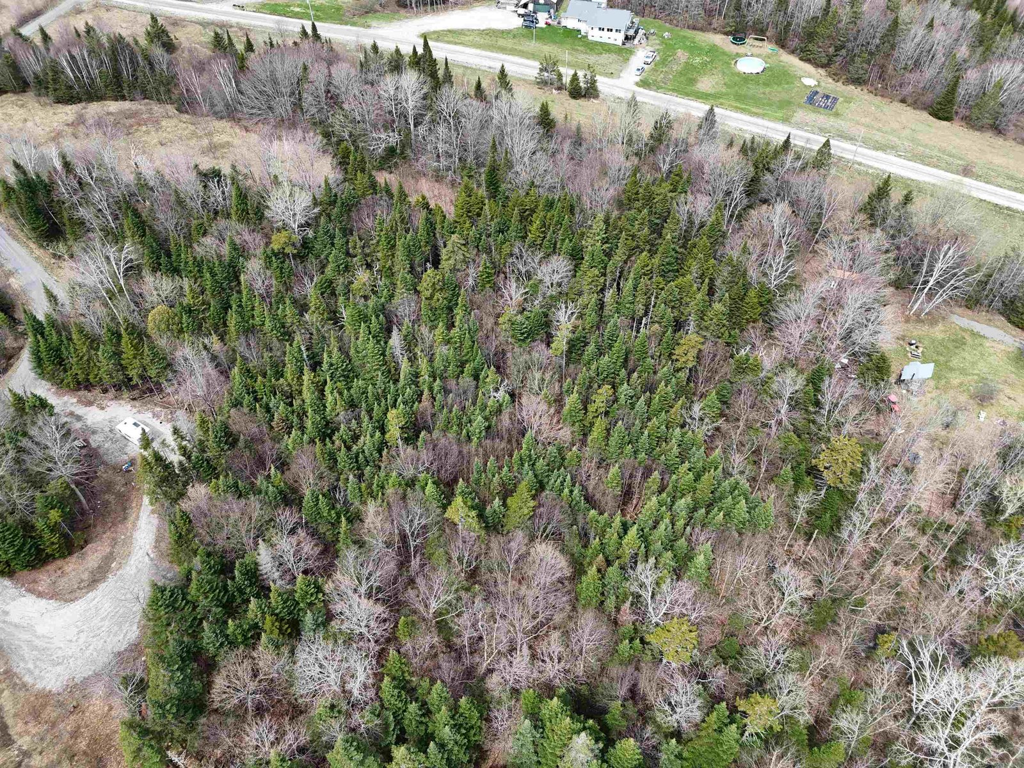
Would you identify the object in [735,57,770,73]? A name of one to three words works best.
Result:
swimming pool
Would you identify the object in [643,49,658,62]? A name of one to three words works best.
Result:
vehicle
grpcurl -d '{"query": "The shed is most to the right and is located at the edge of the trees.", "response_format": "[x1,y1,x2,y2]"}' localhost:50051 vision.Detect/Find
[893,361,938,389]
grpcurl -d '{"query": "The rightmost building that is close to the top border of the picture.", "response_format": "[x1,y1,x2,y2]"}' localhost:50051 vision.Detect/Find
[563,0,632,43]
